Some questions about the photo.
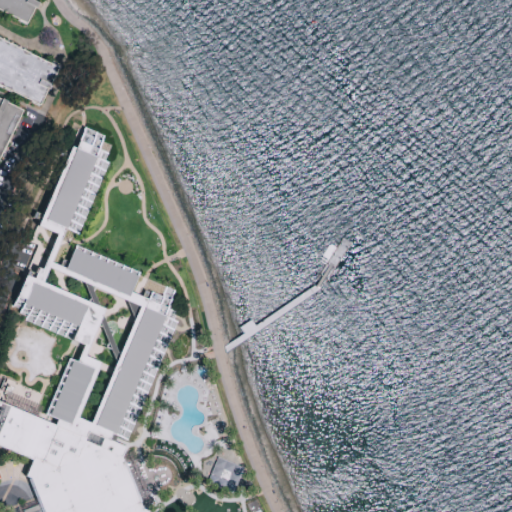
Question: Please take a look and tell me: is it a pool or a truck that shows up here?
pool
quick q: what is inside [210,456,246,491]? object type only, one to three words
building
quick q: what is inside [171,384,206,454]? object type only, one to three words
swimming pool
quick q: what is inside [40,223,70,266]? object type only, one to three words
building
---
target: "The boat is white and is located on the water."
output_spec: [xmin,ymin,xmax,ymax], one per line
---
[322,243,336,262]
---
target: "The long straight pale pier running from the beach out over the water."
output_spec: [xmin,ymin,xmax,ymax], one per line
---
[224,284,322,352]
